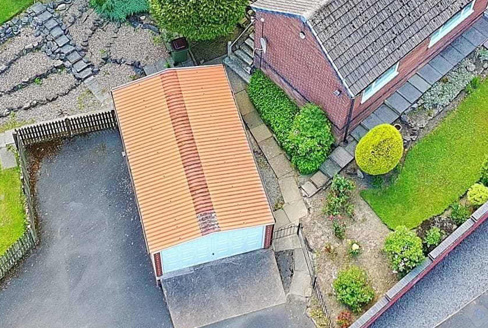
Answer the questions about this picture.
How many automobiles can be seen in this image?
0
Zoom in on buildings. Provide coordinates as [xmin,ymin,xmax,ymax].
[112,64,274,278]
[248,0,488,144]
